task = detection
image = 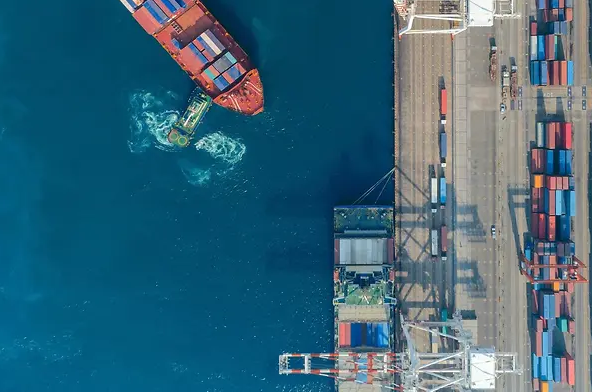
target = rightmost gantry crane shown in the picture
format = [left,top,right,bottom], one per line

[515,248,587,282]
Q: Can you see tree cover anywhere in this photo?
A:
No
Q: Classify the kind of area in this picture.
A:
port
